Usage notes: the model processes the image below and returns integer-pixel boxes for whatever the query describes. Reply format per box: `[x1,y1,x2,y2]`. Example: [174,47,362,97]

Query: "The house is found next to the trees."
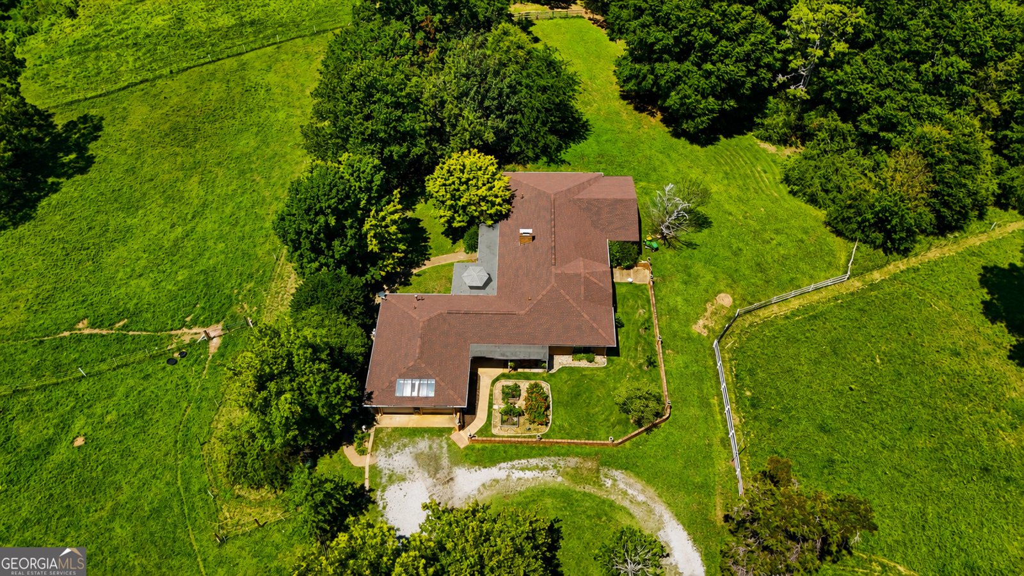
[365,171,641,419]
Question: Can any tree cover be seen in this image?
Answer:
Yes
